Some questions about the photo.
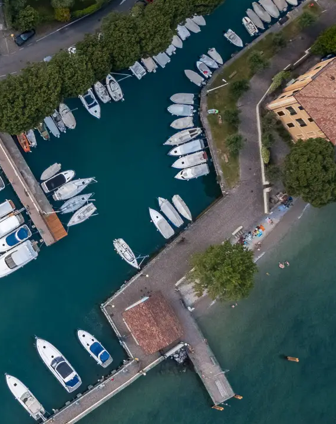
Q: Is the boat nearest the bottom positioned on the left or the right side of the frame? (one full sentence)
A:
You can find the boat nearest the bottom on the left side of the picture.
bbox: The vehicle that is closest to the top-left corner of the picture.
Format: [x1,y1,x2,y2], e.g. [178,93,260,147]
[12,28,37,47]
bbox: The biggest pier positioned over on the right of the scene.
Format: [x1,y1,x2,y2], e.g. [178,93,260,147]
[189,312,235,405]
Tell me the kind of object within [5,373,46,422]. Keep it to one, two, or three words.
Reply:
boat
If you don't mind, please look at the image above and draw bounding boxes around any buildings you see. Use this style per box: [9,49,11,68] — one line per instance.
[274,57,336,145]
[120,292,185,355]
